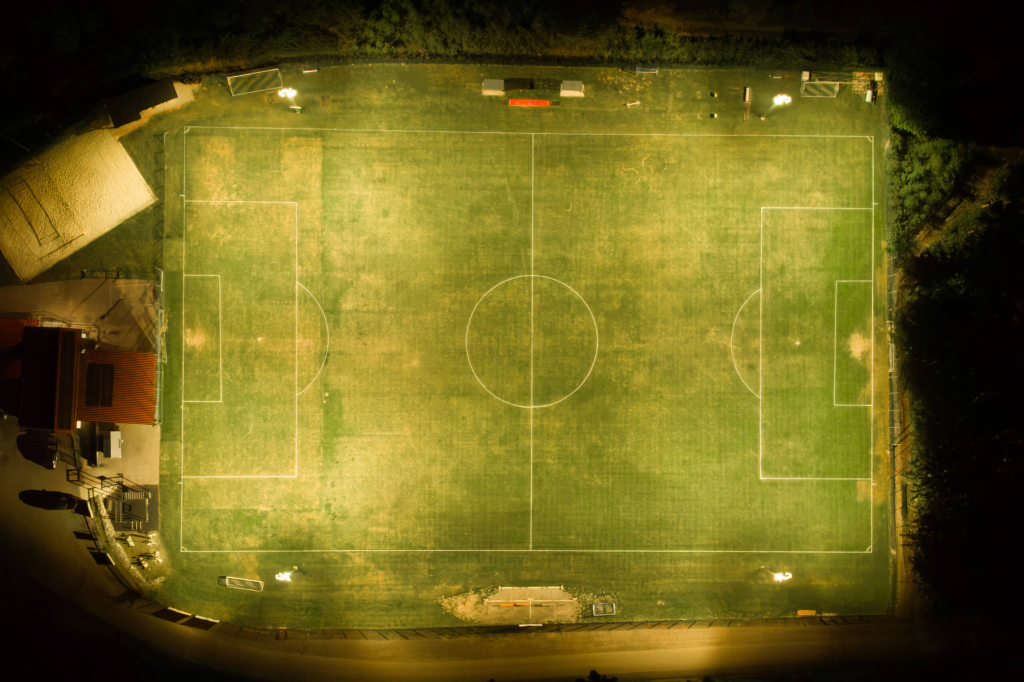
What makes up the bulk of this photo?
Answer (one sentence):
The scene is dominated by grass.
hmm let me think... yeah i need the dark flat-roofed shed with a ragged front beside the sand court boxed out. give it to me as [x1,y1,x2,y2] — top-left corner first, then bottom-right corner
[107,79,179,129]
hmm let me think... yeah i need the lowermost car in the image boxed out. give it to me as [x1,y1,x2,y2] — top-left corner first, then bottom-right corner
[44,494,75,509]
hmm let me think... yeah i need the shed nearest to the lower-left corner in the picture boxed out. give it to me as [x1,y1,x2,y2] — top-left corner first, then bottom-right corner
[104,431,123,458]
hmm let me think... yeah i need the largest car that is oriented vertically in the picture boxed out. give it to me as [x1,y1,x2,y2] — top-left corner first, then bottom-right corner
[41,437,58,469]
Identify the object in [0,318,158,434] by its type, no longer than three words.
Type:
building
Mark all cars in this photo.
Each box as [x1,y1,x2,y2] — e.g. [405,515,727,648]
[44,494,75,509]
[41,437,58,469]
